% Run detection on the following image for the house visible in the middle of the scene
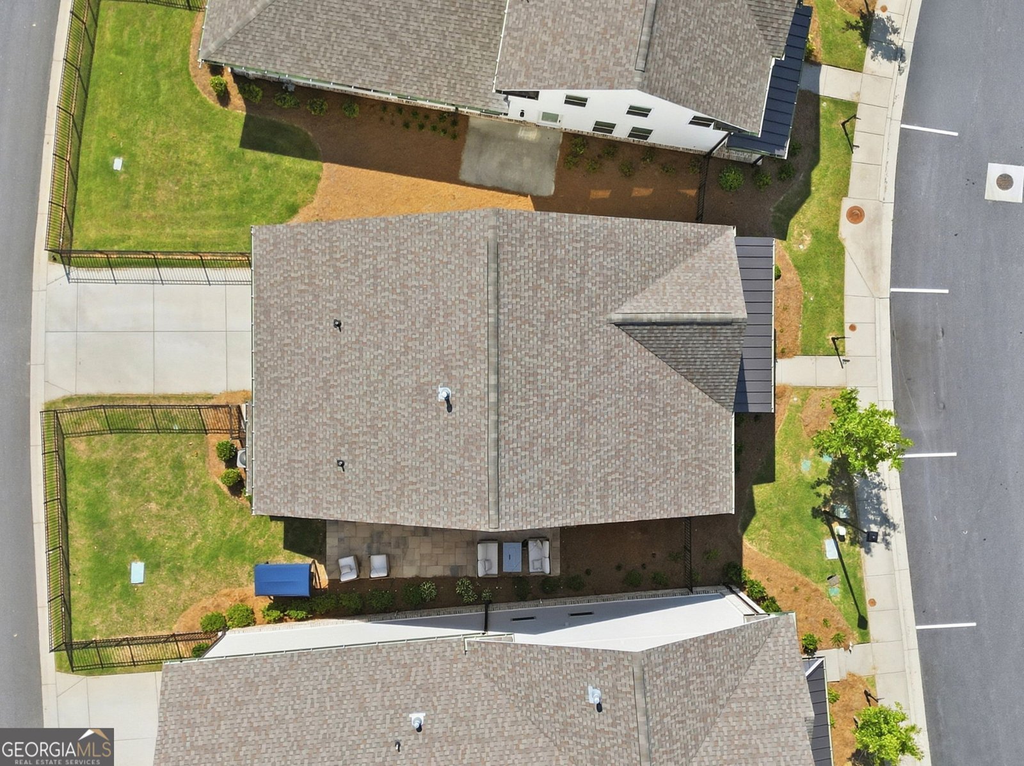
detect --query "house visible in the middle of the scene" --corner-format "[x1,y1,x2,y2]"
[244,208,776,530]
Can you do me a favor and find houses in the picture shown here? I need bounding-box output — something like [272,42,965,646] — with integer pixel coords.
[197,0,814,170]
[154,576,835,766]
[244,208,776,530]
